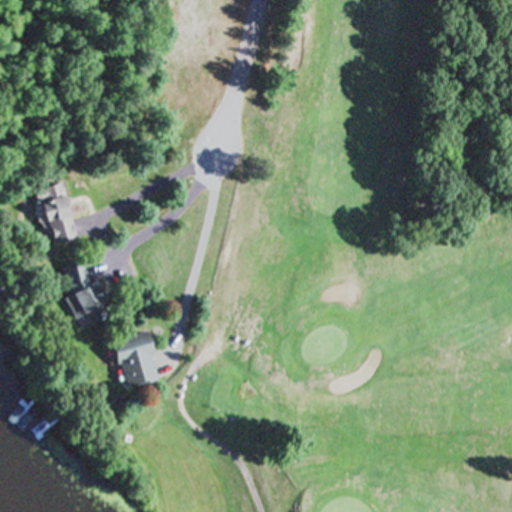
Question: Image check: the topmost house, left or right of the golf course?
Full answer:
The topmost house appears to the left of the golf course in this view.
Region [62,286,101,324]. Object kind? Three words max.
house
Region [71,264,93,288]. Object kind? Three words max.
building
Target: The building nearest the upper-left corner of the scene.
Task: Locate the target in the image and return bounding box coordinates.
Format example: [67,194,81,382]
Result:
[34,182,75,241]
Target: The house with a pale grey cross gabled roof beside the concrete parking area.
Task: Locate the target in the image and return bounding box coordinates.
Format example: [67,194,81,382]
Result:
[110,331,158,388]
